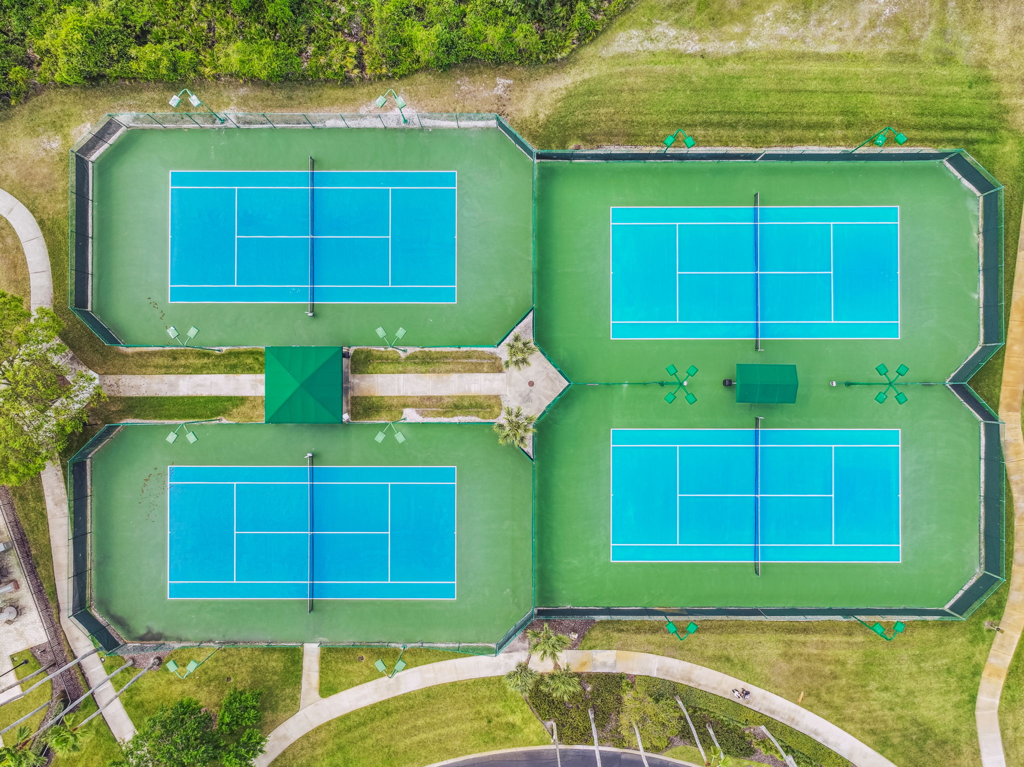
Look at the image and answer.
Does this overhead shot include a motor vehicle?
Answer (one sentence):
No, I can't see a single motor vehicle in this photo.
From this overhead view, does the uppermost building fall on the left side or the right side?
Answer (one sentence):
The uppermost building appears in the left half of the scene.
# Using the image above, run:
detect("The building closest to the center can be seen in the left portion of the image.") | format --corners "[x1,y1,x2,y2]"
[265,346,348,424]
